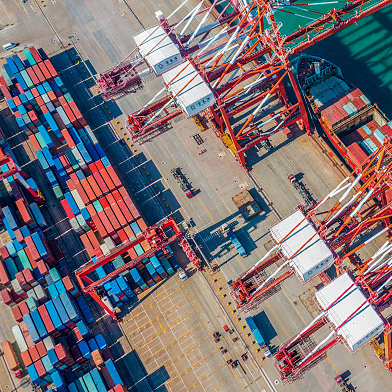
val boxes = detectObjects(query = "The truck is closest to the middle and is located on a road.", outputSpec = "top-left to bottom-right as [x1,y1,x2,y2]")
[169,167,194,199]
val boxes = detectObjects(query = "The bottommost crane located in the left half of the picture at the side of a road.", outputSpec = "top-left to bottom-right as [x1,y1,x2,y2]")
[75,216,204,326]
